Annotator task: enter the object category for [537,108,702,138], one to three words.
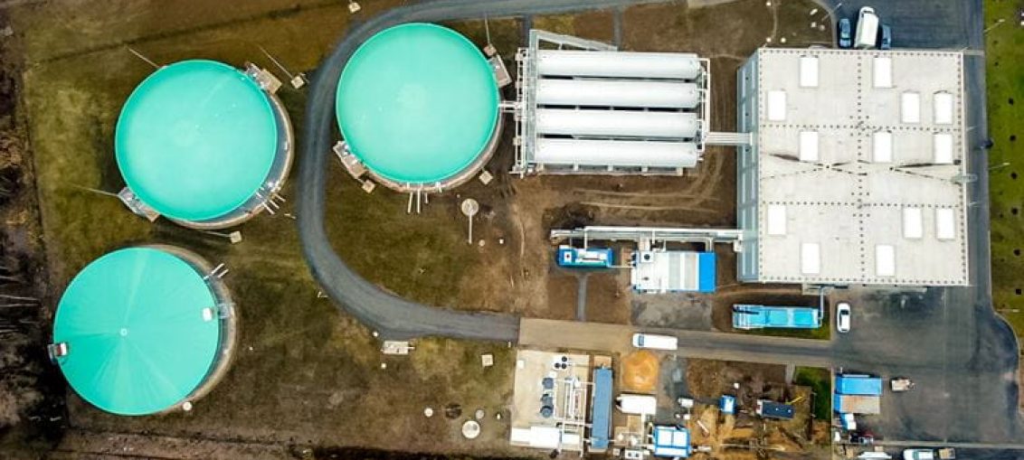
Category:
storage tank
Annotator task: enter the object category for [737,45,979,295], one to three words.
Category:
building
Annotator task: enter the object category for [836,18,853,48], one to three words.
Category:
car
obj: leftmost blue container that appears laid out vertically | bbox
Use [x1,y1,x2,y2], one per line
[587,362,625,446]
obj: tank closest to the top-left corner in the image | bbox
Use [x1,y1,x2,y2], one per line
[116,61,297,228]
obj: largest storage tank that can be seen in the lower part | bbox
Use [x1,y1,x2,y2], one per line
[45,243,238,417]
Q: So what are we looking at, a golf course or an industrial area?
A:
industrial area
